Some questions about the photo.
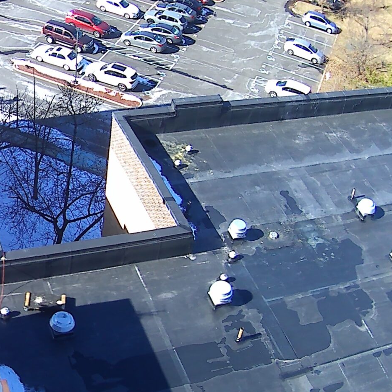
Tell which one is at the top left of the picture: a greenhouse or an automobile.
automobile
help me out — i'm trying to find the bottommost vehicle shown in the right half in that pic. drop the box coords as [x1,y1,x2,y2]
[265,79,313,96]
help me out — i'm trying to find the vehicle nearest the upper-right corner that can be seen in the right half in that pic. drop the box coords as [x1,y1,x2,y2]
[301,8,337,34]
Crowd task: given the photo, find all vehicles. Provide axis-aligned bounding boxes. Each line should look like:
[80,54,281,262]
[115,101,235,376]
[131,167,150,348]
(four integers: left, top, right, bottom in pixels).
[153,0,199,19]
[64,7,113,38]
[84,60,140,90]
[117,28,169,53]
[283,36,325,64]
[133,21,182,44]
[96,0,139,19]
[265,79,313,96]
[30,44,86,71]
[143,5,191,29]
[301,8,337,34]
